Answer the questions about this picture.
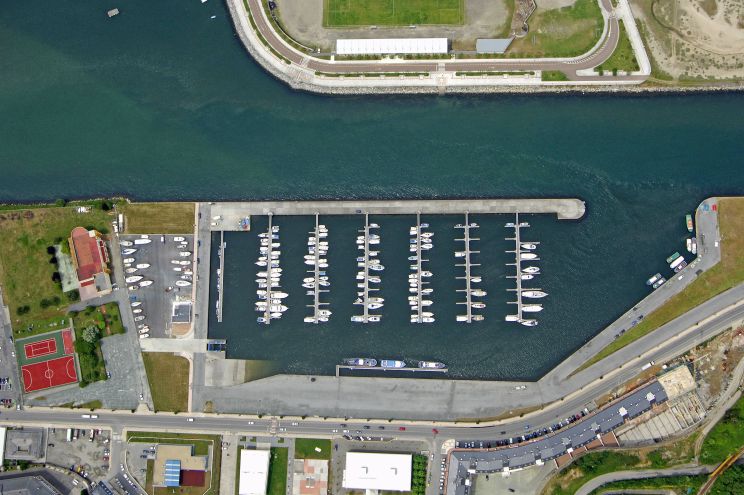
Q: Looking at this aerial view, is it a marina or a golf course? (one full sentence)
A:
It's a marina.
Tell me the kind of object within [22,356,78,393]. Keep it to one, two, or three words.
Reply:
sports court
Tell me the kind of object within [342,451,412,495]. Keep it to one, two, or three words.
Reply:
building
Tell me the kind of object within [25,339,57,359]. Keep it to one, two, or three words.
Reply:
tennis court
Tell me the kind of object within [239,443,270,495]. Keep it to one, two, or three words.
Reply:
building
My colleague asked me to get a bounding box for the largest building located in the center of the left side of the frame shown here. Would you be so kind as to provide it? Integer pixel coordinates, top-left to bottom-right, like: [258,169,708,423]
[68,227,112,293]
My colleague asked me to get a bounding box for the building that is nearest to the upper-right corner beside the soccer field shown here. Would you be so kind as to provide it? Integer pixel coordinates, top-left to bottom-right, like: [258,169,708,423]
[476,39,511,54]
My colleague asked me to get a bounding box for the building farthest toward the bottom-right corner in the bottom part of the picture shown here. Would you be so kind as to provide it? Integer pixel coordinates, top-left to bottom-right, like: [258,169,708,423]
[668,390,706,430]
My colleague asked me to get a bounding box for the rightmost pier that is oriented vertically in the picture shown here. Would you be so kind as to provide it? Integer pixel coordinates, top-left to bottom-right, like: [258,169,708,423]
[504,212,542,321]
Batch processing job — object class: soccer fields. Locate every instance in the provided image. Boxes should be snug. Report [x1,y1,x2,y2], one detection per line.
[323,0,466,27]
